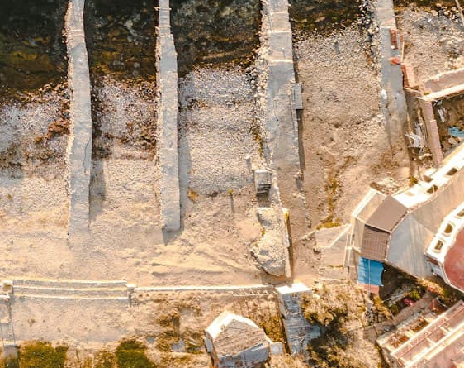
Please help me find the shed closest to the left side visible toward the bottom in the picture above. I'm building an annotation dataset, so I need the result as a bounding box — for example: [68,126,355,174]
[200,305,283,368]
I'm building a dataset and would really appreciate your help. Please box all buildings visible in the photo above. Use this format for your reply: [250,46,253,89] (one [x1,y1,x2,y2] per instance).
[340,121,464,314]
[369,289,464,368]
[200,305,283,368]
